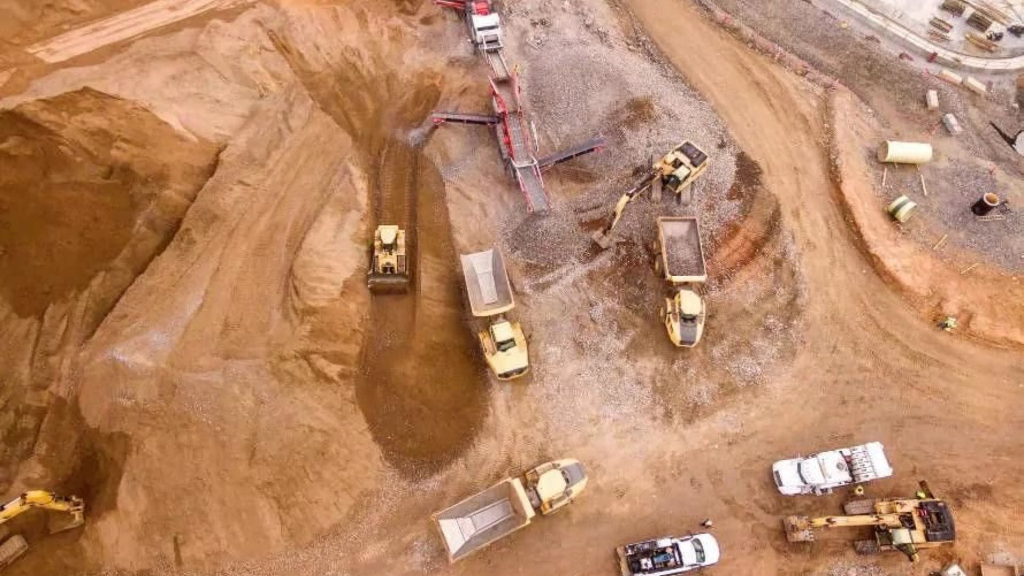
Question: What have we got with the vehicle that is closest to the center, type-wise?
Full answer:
Looking closely, the vehicle that is closest to the center is a truck.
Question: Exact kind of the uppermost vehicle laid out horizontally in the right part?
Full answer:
The uppermost vehicle laid out horizontally in the right part in the image is a truck.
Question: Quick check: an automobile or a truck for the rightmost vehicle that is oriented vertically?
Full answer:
The rightmost vehicle that is oriented vertically is a truck.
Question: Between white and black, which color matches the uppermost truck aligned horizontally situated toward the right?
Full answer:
In this view, the uppermost truck aligned horizontally situated toward the right is white.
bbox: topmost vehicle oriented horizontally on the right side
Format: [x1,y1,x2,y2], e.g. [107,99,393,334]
[766,443,896,495]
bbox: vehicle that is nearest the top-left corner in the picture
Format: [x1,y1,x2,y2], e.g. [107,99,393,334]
[366,222,412,295]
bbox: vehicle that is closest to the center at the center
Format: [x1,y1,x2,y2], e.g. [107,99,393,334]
[458,247,530,382]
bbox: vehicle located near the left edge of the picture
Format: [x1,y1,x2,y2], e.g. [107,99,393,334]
[0,483,90,552]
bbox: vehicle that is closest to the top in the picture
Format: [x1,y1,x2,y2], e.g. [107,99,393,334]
[611,144,707,241]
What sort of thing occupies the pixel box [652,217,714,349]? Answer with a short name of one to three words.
truck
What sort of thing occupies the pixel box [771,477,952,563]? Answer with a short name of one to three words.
work vehicle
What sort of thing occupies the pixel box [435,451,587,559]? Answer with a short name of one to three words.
truck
